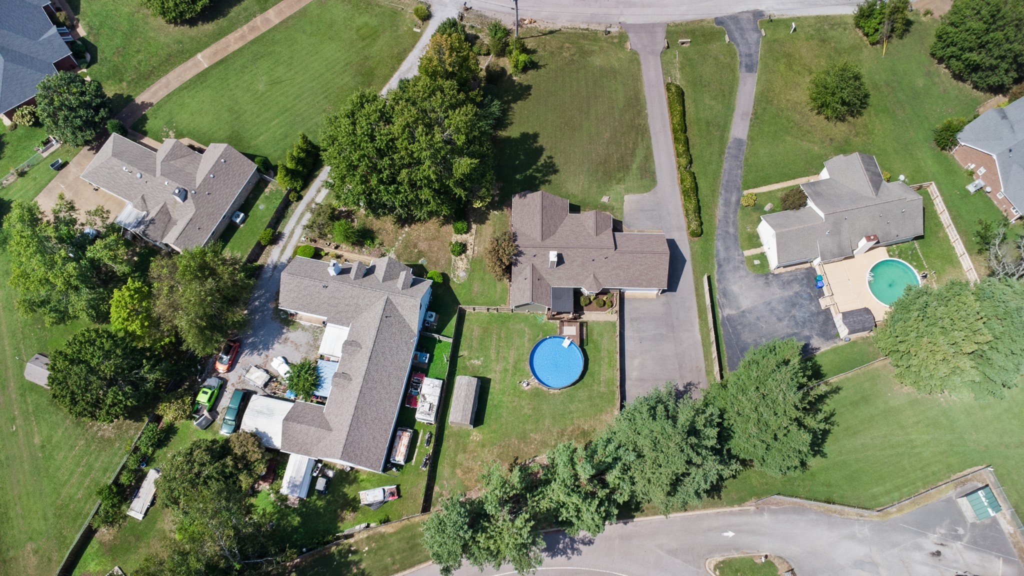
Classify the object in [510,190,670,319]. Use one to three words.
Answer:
house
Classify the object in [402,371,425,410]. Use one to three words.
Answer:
car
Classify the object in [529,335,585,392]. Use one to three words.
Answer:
swimming pool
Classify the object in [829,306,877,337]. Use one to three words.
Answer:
shed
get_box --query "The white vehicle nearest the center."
[414,375,444,428]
